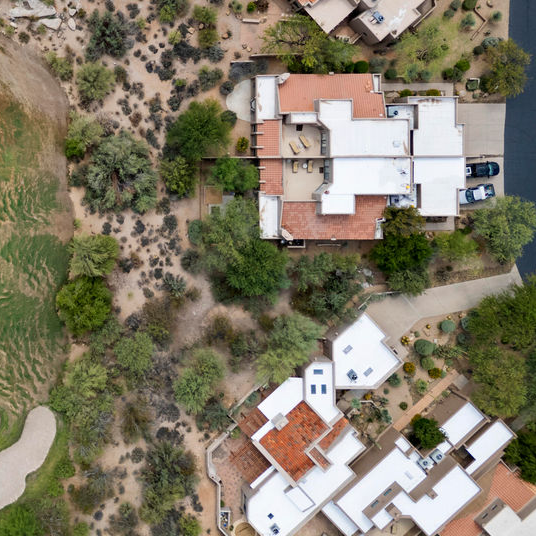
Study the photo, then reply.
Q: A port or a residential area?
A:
residential area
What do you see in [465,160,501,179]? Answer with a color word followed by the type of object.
black vehicle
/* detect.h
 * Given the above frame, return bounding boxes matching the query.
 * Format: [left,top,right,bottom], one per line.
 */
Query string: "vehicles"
[459,183,498,205]
[465,160,501,179]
